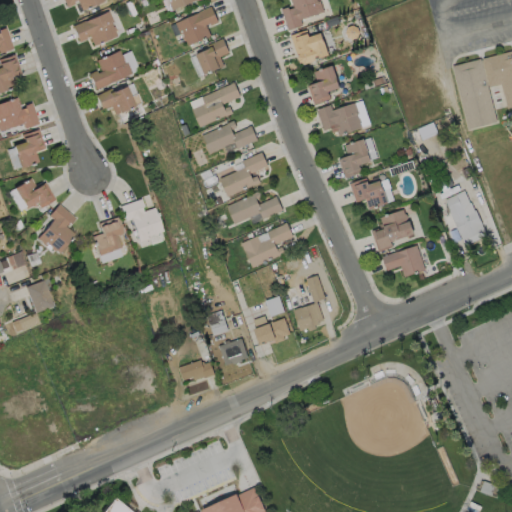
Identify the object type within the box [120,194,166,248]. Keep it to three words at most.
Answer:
building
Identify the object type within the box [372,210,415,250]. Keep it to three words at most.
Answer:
house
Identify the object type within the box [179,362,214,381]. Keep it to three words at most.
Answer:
house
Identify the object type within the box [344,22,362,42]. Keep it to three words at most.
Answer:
gazebo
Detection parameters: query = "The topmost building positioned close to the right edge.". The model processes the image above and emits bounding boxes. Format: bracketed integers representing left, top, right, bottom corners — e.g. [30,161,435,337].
[454,52,512,128]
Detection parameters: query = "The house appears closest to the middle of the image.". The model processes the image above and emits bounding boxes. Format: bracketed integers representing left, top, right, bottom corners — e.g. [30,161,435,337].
[242,224,293,268]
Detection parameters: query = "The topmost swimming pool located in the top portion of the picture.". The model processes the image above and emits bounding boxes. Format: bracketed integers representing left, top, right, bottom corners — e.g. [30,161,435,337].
[352,54,376,68]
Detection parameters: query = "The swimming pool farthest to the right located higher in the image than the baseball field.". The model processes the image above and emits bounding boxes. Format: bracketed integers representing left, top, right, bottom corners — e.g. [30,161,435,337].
[398,172,416,198]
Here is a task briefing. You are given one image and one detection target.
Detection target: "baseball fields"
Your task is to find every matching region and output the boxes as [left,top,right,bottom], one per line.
[282,378,460,512]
